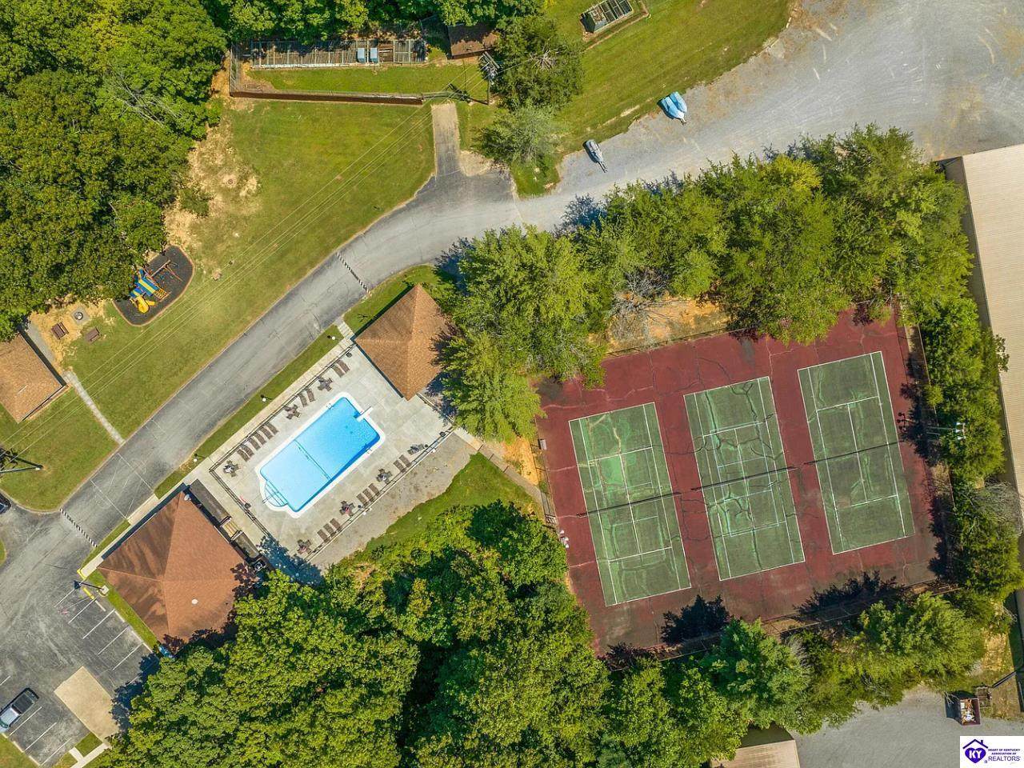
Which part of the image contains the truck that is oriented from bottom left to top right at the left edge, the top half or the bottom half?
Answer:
bottom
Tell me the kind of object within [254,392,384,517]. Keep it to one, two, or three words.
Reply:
swimming pool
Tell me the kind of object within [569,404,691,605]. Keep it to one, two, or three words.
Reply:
tennis court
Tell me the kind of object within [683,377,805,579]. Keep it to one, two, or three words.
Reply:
tennis court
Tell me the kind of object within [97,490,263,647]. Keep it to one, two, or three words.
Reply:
building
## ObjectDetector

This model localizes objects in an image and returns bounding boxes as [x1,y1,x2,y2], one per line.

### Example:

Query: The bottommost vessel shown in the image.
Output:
[584,140,601,164]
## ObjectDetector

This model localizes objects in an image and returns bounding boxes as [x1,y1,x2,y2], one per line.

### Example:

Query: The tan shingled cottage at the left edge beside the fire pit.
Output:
[0,323,75,422]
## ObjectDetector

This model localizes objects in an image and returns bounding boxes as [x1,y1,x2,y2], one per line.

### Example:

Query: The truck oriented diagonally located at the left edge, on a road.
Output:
[0,689,38,733]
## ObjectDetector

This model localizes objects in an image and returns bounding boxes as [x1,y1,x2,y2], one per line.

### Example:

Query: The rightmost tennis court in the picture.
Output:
[796,352,917,553]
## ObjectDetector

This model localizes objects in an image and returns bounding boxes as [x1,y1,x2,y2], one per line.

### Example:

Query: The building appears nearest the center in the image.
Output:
[355,284,470,402]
